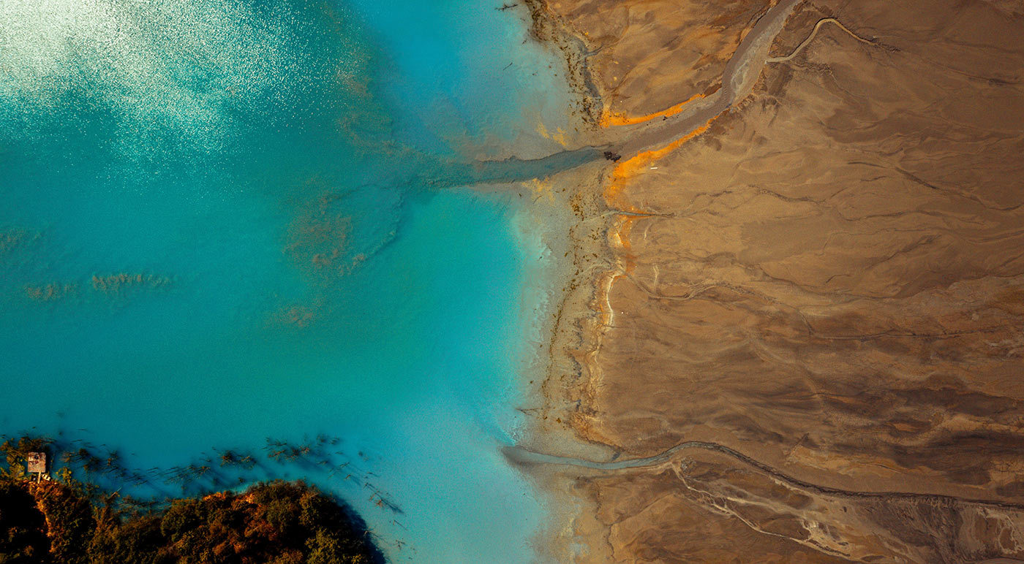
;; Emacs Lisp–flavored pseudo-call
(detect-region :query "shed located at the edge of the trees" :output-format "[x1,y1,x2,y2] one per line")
[28,451,51,473]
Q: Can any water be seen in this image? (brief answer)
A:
Yes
